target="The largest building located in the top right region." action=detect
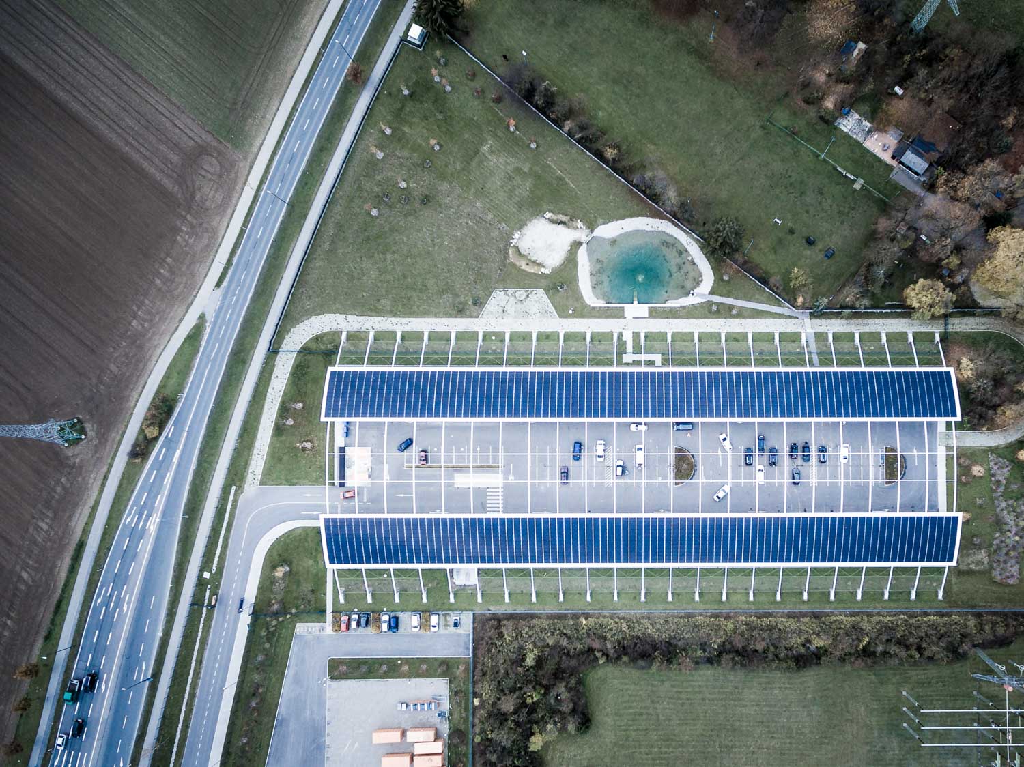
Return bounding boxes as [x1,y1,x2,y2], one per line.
[892,132,938,180]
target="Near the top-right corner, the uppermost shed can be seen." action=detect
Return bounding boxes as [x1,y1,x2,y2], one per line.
[839,40,867,65]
